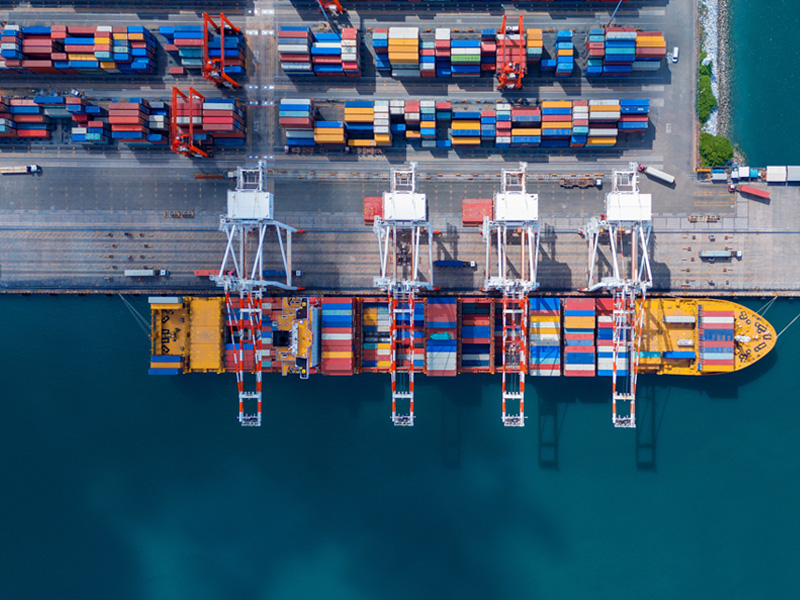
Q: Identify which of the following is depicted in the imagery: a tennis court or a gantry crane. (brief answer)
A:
gantry crane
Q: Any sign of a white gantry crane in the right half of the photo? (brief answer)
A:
Yes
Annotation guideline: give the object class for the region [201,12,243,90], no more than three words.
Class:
crane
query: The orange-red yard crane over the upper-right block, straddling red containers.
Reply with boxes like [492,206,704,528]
[496,14,527,91]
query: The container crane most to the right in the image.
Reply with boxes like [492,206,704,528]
[570,161,655,428]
